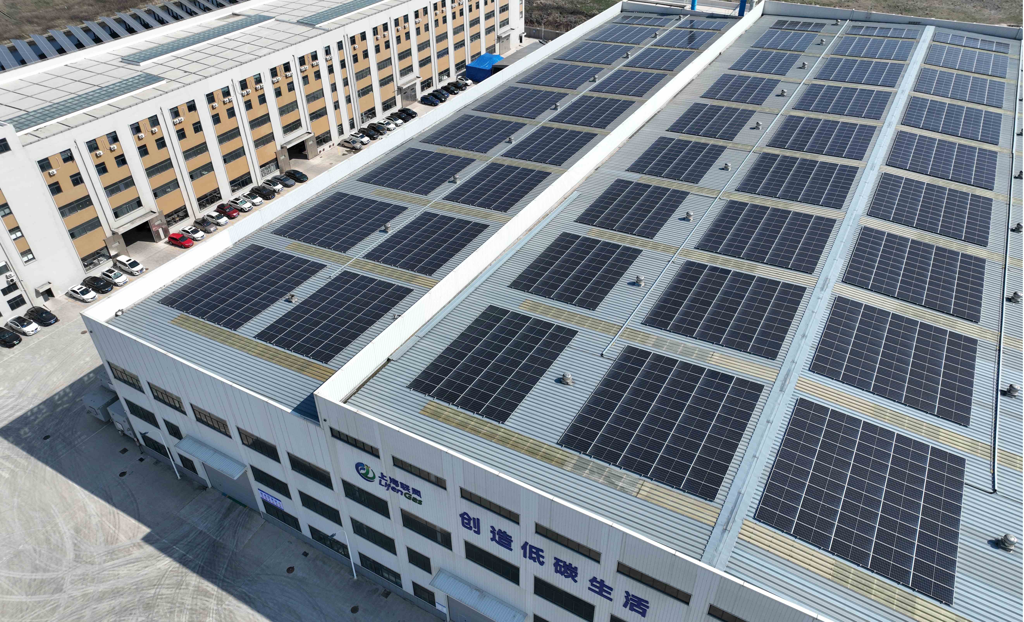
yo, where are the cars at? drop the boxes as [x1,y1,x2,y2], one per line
[10,314,42,335]
[419,94,439,106]
[428,92,447,102]
[169,233,194,250]
[250,186,276,200]
[214,202,240,219]
[454,75,473,86]
[0,326,22,347]
[239,191,265,206]
[397,108,418,118]
[228,196,254,213]
[284,170,309,183]
[440,85,459,95]
[348,131,370,144]
[339,138,361,150]
[376,120,396,132]
[391,112,412,123]
[179,225,207,241]
[203,210,230,226]
[85,276,114,294]
[262,179,285,193]
[271,174,297,188]
[191,216,218,232]
[27,307,58,327]
[102,268,129,287]
[68,283,98,302]
[447,81,467,90]
[116,254,146,275]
